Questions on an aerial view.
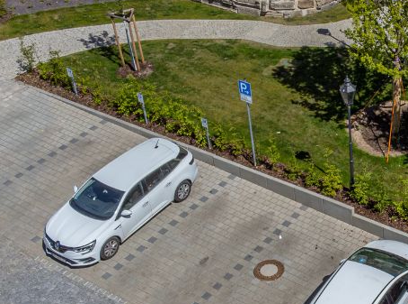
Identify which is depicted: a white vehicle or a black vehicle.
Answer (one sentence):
The image shows a white vehicle.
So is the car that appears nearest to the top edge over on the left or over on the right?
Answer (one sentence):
The car that appears nearest to the top edge appears in the left half of the scene.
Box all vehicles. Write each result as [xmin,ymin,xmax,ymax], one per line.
[40,142,198,267]
[311,238,408,304]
